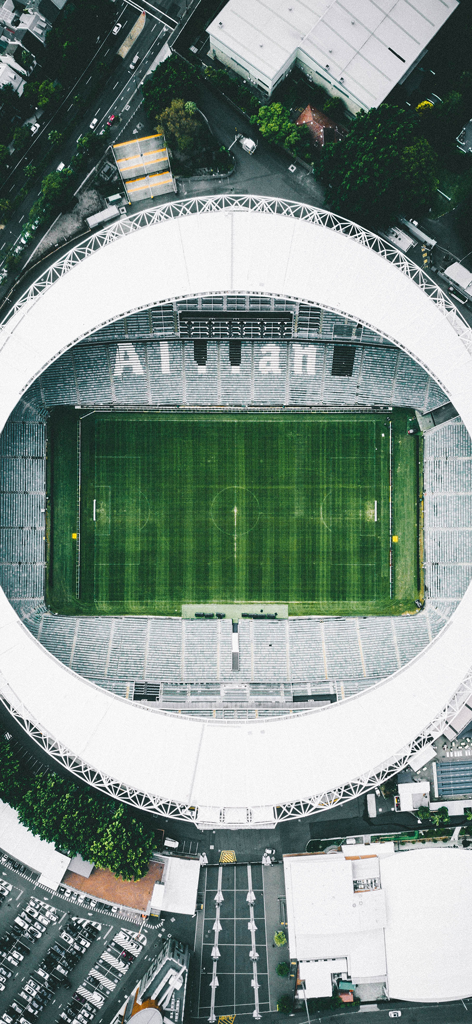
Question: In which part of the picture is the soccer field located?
center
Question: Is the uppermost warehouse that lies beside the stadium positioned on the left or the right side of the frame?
right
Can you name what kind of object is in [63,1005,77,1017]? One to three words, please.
vehicle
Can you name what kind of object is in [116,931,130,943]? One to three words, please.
vehicle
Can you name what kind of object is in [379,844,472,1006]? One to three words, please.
building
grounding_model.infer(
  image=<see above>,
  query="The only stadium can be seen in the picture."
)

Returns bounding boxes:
[0,195,472,831]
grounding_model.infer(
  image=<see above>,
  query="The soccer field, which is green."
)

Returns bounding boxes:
[44,406,426,623]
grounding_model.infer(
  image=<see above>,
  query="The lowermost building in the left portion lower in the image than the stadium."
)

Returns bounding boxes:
[107,940,190,1024]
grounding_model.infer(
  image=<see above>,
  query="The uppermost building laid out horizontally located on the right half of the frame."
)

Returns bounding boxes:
[206,0,466,119]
